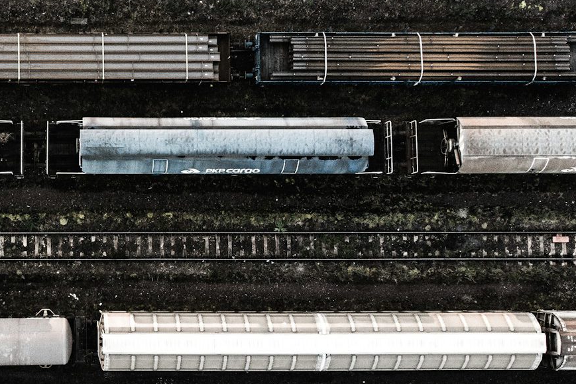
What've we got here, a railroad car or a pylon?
railroad car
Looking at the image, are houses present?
No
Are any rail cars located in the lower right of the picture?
Yes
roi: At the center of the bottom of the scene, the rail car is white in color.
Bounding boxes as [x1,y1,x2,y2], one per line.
[83,307,548,374]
